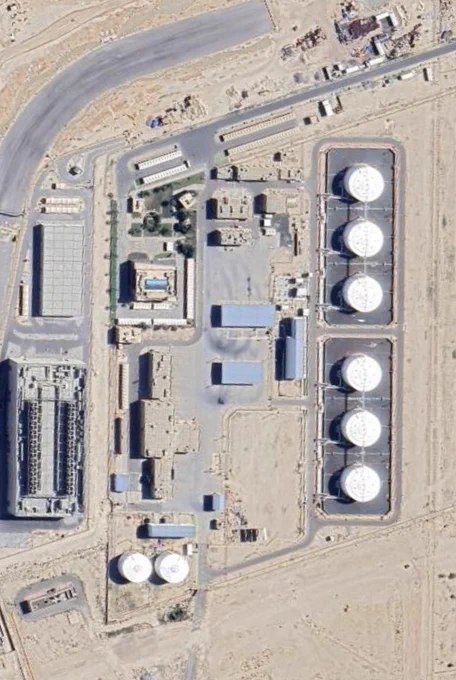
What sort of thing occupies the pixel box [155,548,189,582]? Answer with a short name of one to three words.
storage tank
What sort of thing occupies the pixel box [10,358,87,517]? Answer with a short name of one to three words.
building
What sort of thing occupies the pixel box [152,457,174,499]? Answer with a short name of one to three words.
building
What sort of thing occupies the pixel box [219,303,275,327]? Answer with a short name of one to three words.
shed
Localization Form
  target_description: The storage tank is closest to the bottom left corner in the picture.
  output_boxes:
[118,548,153,582]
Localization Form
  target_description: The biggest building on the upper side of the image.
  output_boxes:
[40,224,84,316]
